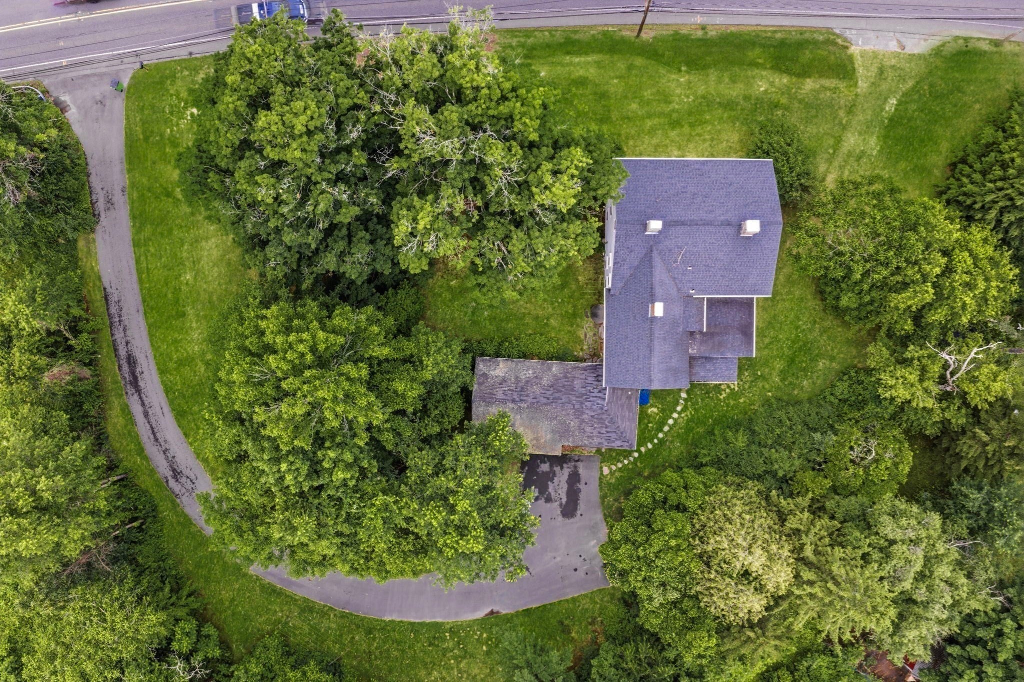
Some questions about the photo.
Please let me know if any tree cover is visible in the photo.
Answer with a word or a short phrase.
Yes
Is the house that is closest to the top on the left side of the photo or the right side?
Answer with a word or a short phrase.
right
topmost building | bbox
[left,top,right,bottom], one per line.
[600,158,783,389]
